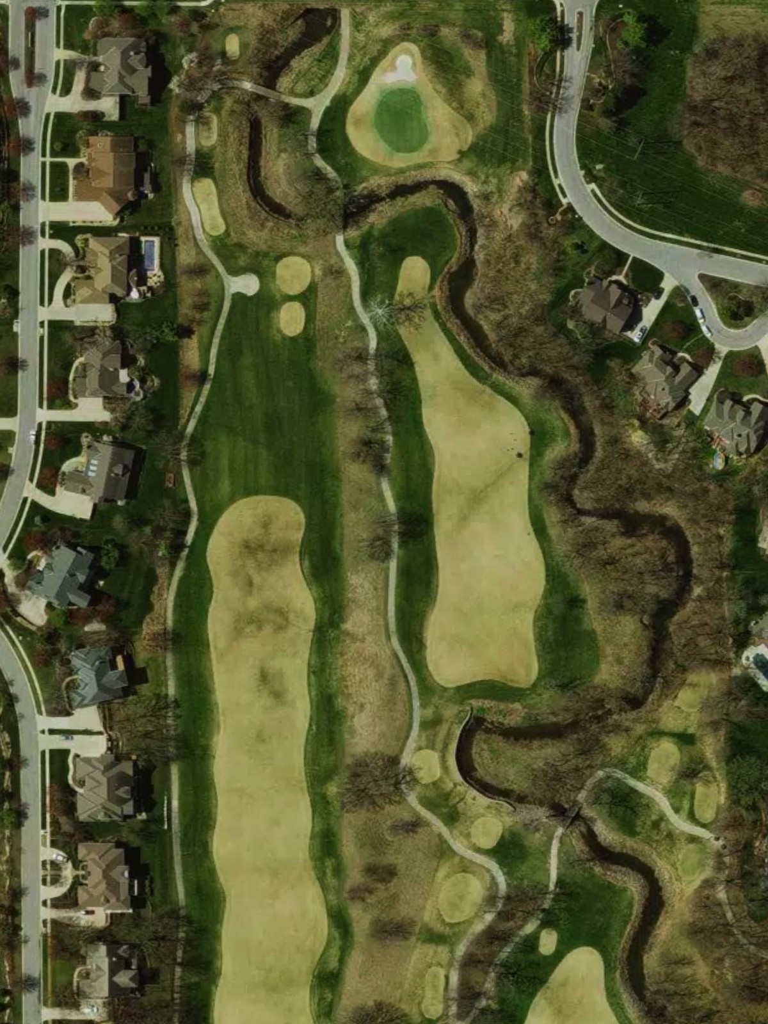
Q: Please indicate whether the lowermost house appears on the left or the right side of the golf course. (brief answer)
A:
on the left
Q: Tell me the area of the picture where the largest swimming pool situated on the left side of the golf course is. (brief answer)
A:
top left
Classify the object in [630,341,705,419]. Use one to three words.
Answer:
house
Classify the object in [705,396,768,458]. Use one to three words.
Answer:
house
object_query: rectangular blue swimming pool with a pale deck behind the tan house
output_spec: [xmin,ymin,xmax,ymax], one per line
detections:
[140,237,164,285]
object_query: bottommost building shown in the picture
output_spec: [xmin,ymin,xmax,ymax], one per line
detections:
[77,944,139,1000]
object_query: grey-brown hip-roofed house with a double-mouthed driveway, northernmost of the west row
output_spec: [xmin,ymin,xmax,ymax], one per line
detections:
[89,36,150,105]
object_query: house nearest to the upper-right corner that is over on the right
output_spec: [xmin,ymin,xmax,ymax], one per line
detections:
[577,276,641,336]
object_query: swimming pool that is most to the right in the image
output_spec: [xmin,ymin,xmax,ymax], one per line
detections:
[742,643,768,693]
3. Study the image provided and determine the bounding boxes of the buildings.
[20,540,97,610]
[705,396,768,458]
[89,36,150,105]
[71,340,130,398]
[75,236,145,303]
[630,341,705,419]
[75,756,147,822]
[577,276,641,336]
[67,647,129,709]
[77,844,138,913]
[61,440,133,504]
[76,134,150,217]
[77,944,139,1000]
